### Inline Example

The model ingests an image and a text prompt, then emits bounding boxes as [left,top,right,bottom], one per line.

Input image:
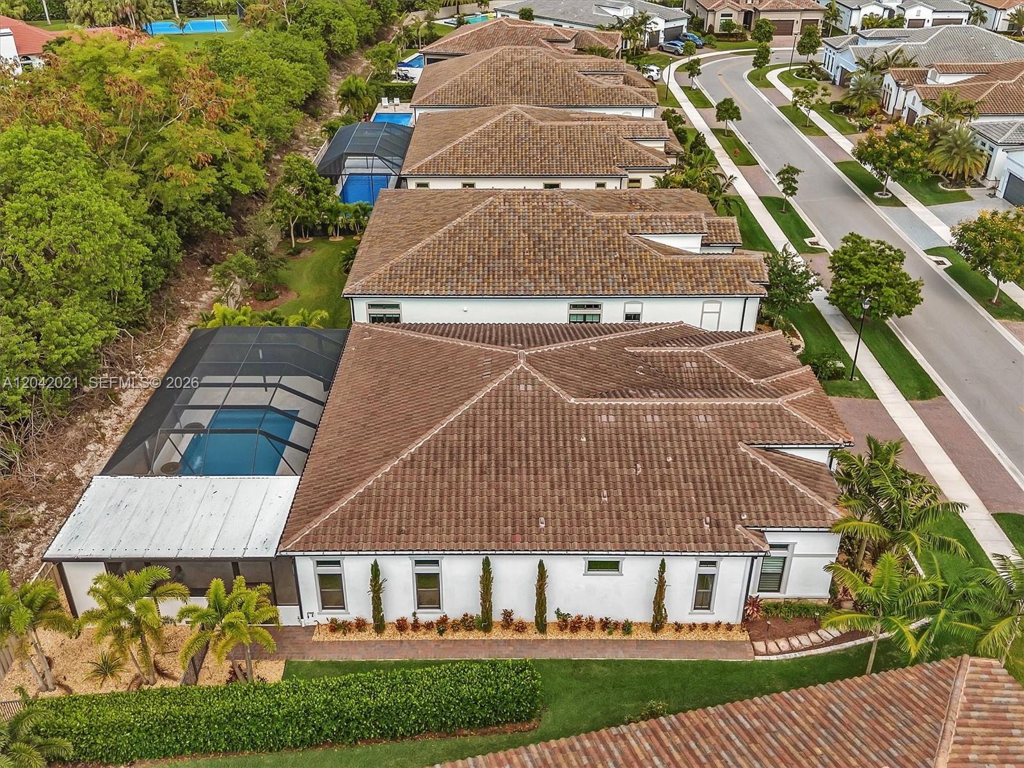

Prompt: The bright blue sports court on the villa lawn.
[138,0,229,34]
